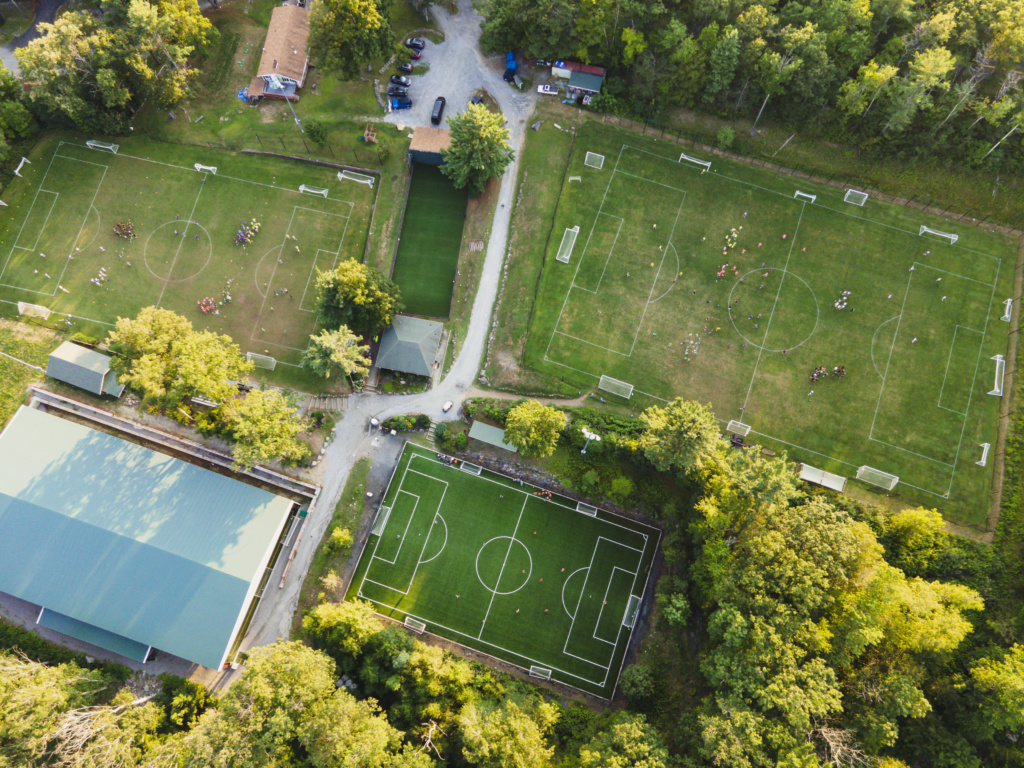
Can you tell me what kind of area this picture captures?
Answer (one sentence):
The picture captures a sports ground.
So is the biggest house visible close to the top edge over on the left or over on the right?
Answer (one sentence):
The biggest house visible close to the top edge is on the left side of the image.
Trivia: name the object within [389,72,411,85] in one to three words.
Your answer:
vehicle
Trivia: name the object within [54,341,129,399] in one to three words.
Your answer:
shed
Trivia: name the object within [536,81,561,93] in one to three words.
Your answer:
vehicle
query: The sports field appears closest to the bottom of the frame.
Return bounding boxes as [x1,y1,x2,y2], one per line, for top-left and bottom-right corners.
[343,442,662,701]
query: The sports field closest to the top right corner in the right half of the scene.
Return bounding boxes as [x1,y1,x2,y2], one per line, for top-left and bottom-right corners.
[530,138,1014,507]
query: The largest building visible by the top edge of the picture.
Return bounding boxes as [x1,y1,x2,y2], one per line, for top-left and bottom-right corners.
[248,1,310,101]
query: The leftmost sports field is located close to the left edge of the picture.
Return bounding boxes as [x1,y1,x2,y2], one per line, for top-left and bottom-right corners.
[0,140,359,370]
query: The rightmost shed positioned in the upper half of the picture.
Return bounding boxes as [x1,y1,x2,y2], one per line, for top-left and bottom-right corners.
[553,60,606,98]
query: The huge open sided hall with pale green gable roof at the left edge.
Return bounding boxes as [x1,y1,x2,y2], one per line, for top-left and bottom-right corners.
[0,402,307,672]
